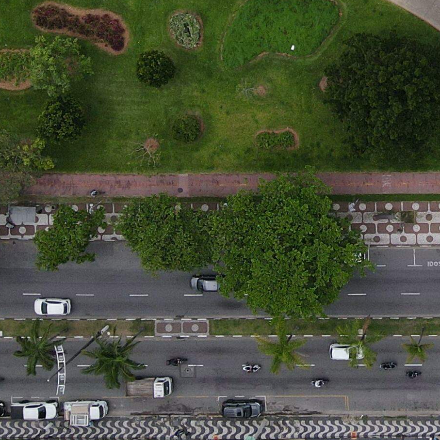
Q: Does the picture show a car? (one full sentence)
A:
Yes, the photo shows a car.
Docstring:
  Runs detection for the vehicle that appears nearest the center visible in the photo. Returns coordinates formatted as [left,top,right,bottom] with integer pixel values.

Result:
[188,276,224,295]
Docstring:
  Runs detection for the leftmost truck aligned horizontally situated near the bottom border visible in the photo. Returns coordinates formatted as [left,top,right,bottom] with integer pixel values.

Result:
[11,400,56,421]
